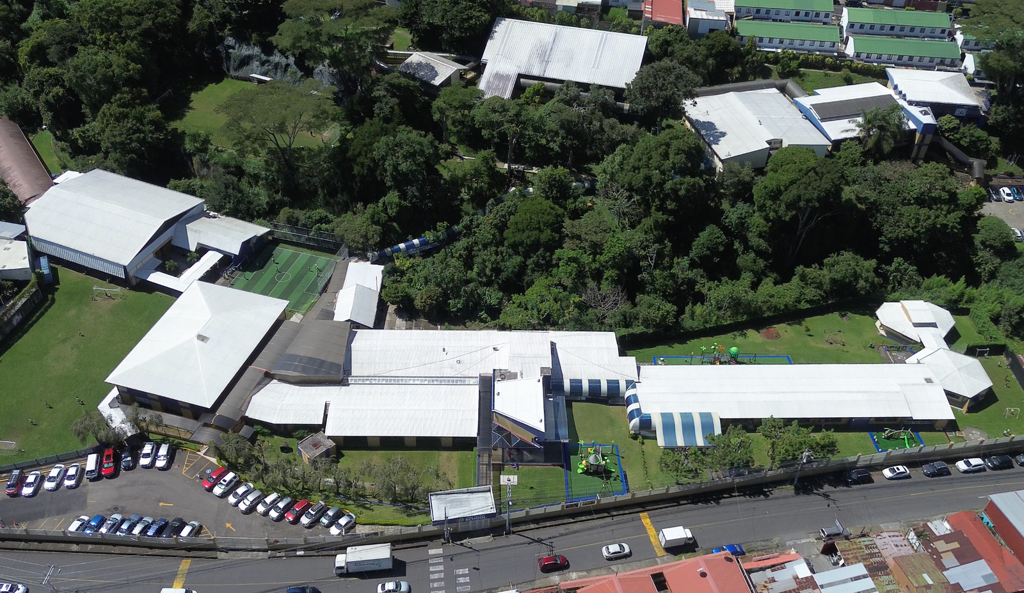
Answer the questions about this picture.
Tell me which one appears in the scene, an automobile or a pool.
automobile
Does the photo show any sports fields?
Yes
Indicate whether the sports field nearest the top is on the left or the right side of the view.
left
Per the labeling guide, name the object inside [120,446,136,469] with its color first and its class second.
black car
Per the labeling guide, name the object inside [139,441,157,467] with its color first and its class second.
white car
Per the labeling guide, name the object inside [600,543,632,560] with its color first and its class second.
white car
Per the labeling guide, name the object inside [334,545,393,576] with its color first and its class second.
white truck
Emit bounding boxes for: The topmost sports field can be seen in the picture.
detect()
[224,243,339,315]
